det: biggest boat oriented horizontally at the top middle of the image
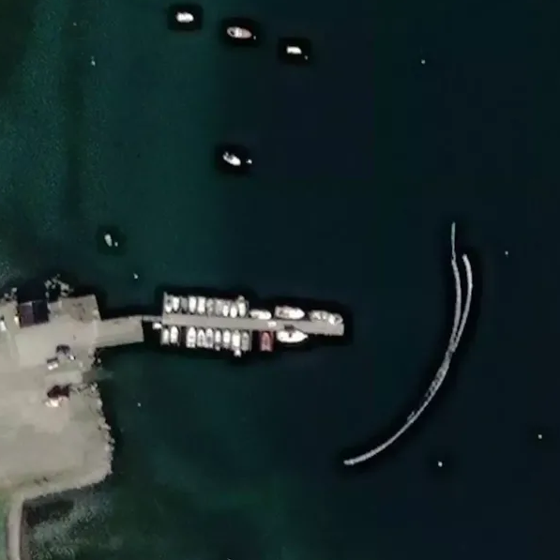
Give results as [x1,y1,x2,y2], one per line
[227,25,251,39]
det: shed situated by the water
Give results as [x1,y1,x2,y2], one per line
[17,298,50,328]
